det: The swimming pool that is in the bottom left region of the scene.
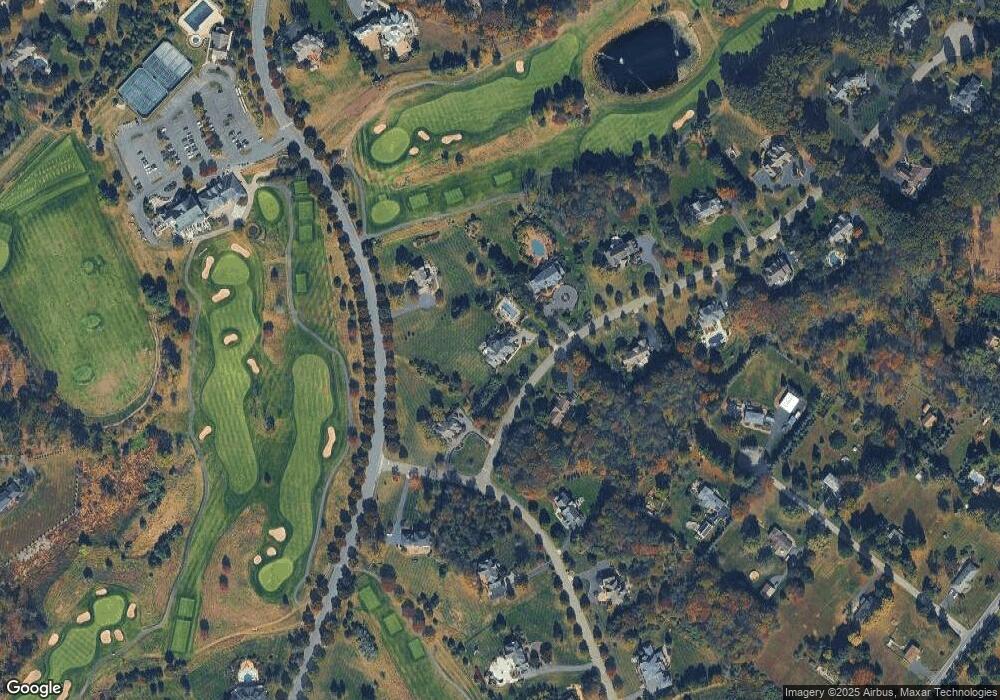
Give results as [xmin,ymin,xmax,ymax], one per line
[238,658,259,684]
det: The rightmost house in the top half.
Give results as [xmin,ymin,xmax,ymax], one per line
[950,70,986,113]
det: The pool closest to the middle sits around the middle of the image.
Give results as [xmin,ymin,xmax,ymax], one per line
[495,296,520,324]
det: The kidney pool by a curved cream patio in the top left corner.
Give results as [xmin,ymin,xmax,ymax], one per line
[33,54,51,74]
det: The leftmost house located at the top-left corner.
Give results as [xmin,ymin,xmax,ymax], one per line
[2,34,39,65]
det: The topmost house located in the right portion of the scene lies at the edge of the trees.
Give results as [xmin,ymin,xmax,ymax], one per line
[892,4,919,35]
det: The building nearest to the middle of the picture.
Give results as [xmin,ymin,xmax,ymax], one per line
[478,330,521,366]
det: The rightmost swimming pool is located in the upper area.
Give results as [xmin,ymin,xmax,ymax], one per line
[825,252,842,268]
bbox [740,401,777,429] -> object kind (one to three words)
house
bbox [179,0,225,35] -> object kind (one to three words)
swimming pool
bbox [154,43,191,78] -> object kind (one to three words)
tennis court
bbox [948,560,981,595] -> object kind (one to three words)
barn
